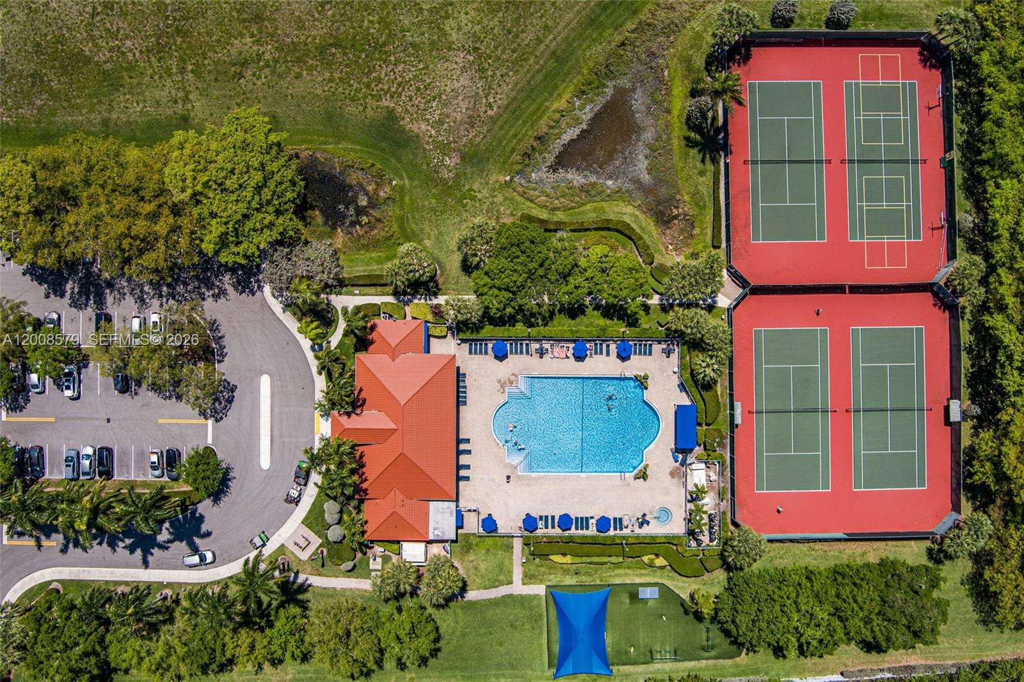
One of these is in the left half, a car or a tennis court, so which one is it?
car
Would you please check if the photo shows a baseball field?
No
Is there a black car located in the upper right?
No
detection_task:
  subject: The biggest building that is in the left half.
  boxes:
[328,319,462,541]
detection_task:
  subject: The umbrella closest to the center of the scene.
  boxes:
[491,341,508,357]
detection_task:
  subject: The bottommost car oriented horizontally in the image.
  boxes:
[182,550,218,566]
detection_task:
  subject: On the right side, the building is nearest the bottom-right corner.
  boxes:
[690,459,705,486]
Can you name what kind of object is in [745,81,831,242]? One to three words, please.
tennis court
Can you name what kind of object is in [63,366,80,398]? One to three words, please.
car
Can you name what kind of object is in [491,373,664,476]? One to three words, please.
swimming pool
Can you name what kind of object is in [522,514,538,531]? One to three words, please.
umbrella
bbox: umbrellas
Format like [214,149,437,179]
[572,341,588,358]
[595,515,611,532]
[616,341,632,357]
[522,514,538,531]
[491,341,508,357]
[557,513,573,530]
[481,516,497,532]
